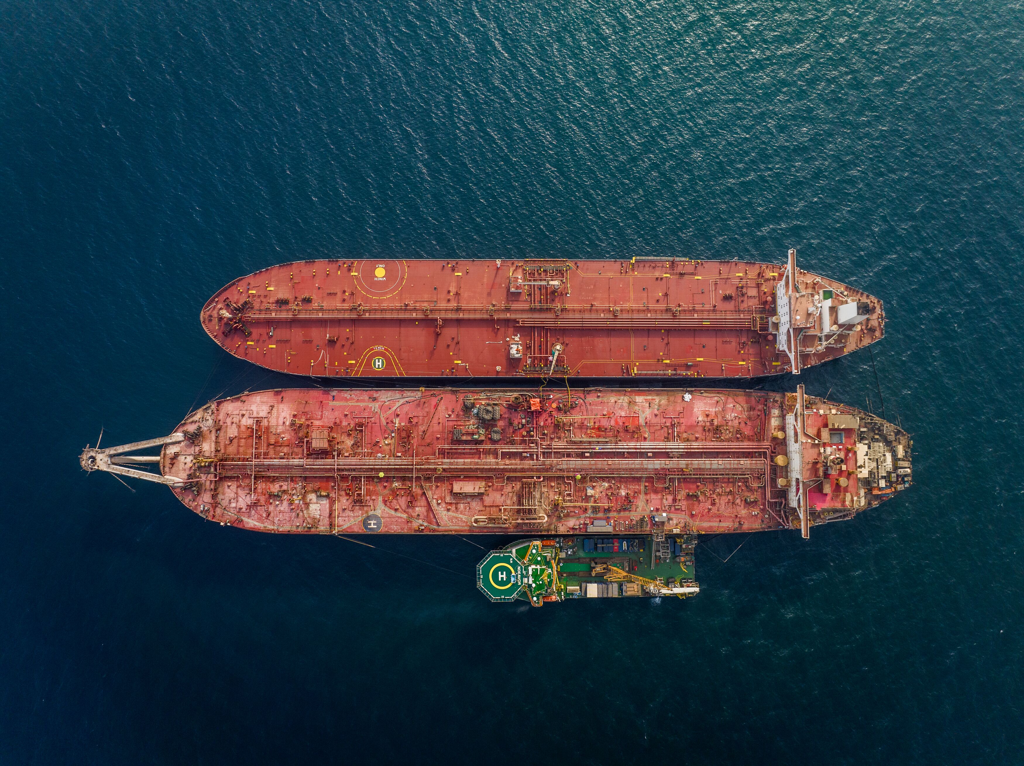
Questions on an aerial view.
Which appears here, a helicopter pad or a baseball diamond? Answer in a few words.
helicopter pad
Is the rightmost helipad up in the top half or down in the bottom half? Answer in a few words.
bottom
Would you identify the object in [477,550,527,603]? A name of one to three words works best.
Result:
helipad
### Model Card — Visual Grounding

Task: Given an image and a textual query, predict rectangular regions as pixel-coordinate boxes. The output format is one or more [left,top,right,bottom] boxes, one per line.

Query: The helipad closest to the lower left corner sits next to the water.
[362,512,383,532]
